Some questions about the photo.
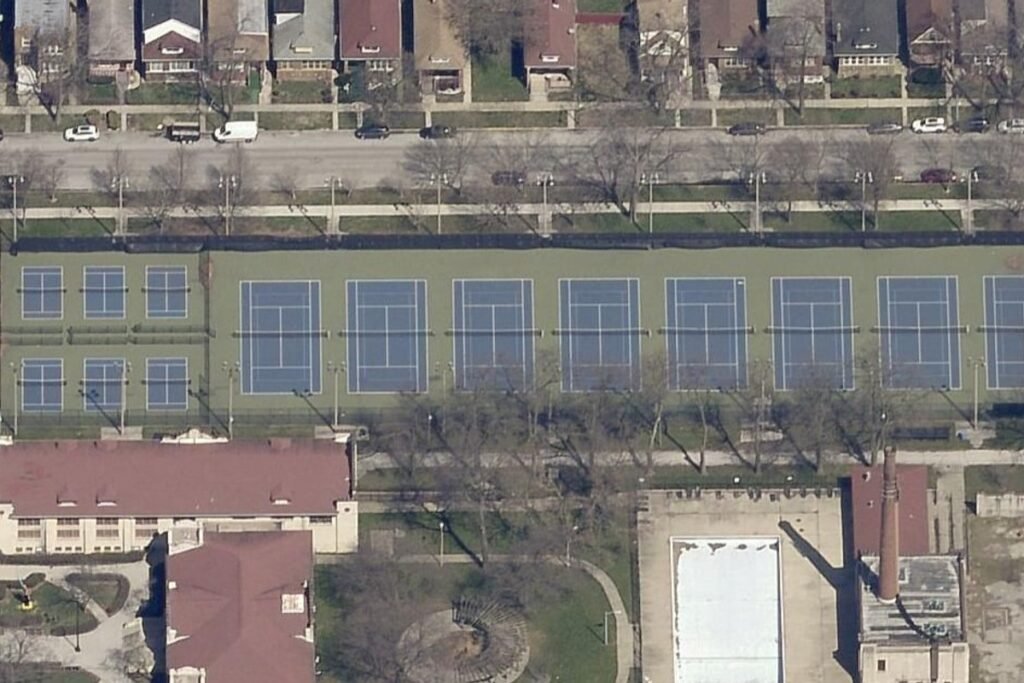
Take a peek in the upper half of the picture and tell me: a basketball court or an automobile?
automobile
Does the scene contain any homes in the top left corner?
Yes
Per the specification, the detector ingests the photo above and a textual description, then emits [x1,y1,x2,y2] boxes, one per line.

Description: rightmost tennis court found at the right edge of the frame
[982,275,1024,389]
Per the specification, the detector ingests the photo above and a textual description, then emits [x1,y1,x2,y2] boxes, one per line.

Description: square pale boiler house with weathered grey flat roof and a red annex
[851,465,969,683]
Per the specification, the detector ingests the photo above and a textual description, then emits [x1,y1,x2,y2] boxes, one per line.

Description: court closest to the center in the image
[452,278,535,392]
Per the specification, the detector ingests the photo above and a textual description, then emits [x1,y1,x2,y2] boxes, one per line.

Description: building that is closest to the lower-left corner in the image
[0,425,371,683]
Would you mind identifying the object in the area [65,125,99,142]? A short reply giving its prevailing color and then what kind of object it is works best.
white car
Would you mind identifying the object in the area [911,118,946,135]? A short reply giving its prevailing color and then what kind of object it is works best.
white car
